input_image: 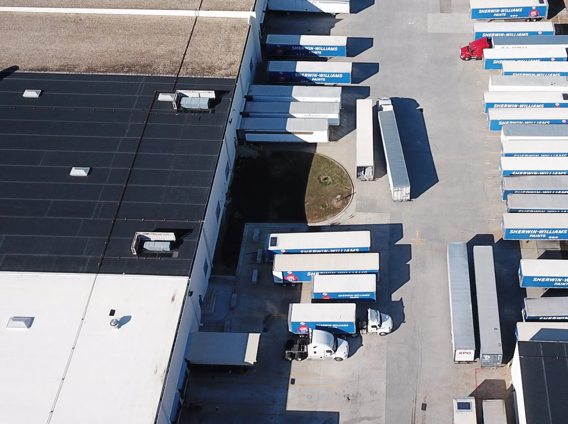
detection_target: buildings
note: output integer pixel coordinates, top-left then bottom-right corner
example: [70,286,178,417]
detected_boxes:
[0,0,268,424]
[513,341,568,424]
